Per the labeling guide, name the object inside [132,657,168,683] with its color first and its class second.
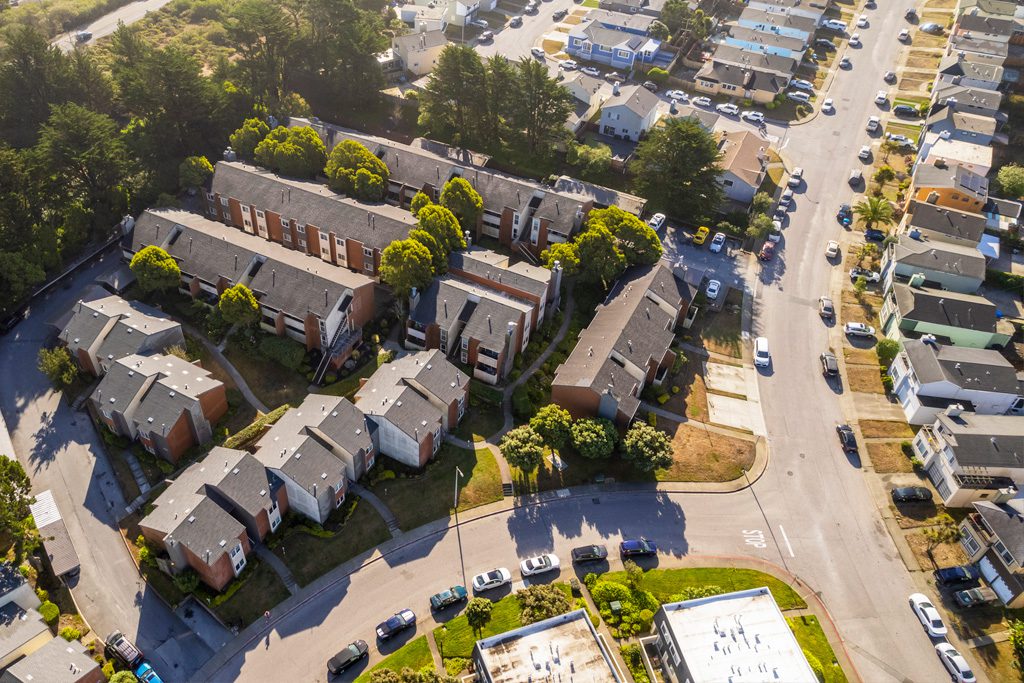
blue truck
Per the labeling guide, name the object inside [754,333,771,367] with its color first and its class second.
white vehicle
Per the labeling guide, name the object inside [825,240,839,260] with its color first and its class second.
white car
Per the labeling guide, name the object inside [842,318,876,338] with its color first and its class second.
white car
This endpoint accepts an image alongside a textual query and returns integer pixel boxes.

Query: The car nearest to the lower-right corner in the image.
[939,644,973,683]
